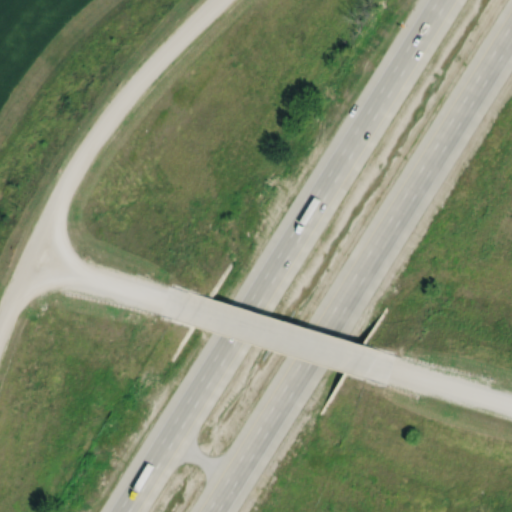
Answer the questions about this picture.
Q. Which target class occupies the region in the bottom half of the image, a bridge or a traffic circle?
bridge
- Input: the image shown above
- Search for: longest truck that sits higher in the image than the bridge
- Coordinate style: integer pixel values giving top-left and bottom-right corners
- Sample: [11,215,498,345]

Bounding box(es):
[296,198,320,233]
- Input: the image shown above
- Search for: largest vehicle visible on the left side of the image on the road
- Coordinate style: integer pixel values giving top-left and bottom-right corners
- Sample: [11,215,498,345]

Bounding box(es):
[130,464,154,498]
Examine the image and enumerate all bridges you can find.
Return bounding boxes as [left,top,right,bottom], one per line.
[163,264,398,413]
